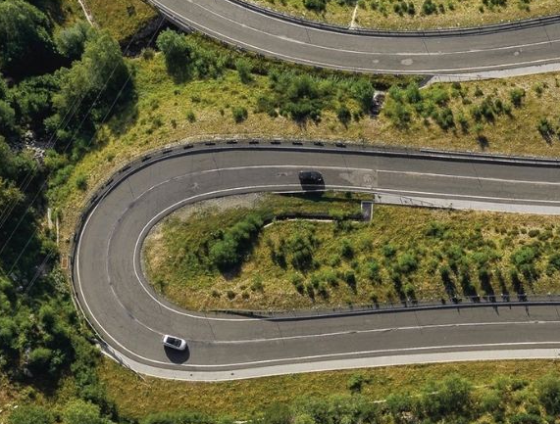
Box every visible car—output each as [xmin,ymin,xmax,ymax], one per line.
[161,333,187,350]
[298,170,322,183]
